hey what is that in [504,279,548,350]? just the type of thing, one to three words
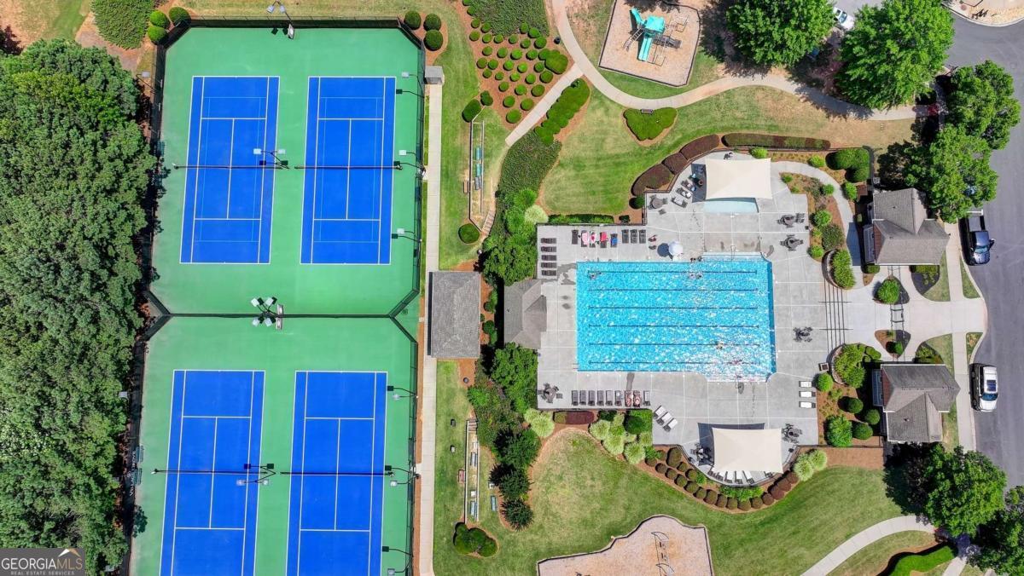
building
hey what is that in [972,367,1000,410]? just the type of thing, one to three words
car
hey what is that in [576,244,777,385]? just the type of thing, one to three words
swimming pool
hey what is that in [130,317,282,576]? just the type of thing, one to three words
tennis court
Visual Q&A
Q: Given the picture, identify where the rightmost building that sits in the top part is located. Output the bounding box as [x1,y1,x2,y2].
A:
[860,187,952,265]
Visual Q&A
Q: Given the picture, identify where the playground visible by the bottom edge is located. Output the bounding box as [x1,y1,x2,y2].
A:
[534,513,716,576]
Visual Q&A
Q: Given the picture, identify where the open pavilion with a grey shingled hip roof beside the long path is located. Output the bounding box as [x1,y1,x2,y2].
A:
[430,271,479,358]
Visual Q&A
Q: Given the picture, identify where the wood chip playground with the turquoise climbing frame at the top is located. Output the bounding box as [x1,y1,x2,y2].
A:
[596,0,703,89]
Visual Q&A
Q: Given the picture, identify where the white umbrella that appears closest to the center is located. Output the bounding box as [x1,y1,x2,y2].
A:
[668,241,683,256]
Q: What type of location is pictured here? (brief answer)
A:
sports ground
